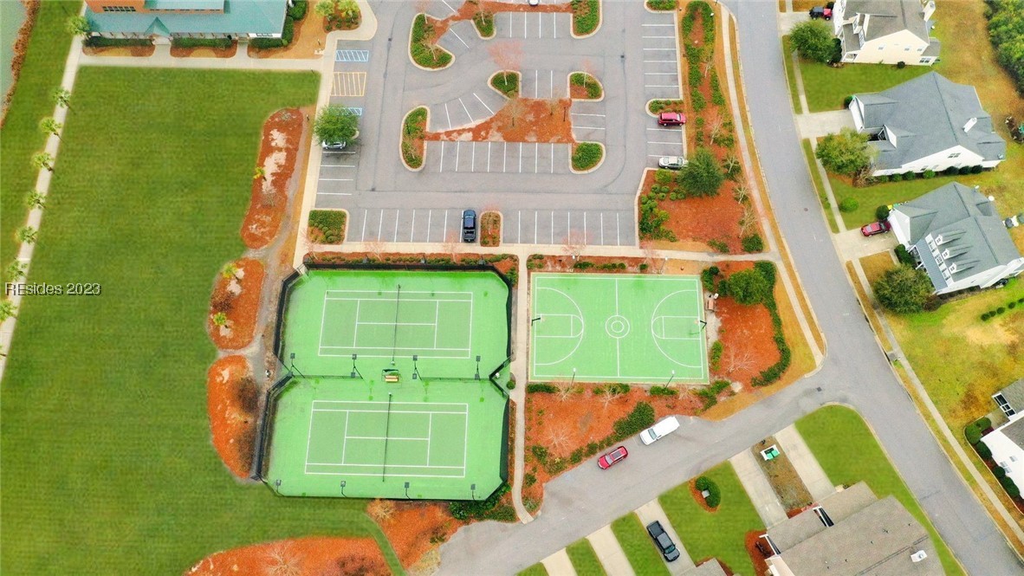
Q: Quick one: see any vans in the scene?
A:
Yes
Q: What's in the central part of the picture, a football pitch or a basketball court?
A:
basketball court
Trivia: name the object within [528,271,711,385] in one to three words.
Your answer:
basketball court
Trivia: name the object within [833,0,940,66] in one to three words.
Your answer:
house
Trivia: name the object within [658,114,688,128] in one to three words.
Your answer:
car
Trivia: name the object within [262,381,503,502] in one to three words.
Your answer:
tennis court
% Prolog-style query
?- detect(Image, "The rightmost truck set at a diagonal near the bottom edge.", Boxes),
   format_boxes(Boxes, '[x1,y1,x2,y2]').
[647,520,680,563]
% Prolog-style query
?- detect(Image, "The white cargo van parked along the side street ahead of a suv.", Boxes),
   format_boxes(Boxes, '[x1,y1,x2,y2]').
[641,417,681,447]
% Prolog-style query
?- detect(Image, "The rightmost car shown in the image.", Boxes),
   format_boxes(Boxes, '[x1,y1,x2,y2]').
[859,219,890,236]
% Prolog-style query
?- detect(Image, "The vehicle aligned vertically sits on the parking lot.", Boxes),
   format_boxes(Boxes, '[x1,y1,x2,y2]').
[462,211,477,242]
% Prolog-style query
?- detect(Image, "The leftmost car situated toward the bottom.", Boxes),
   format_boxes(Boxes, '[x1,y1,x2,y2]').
[597,444,630,470]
